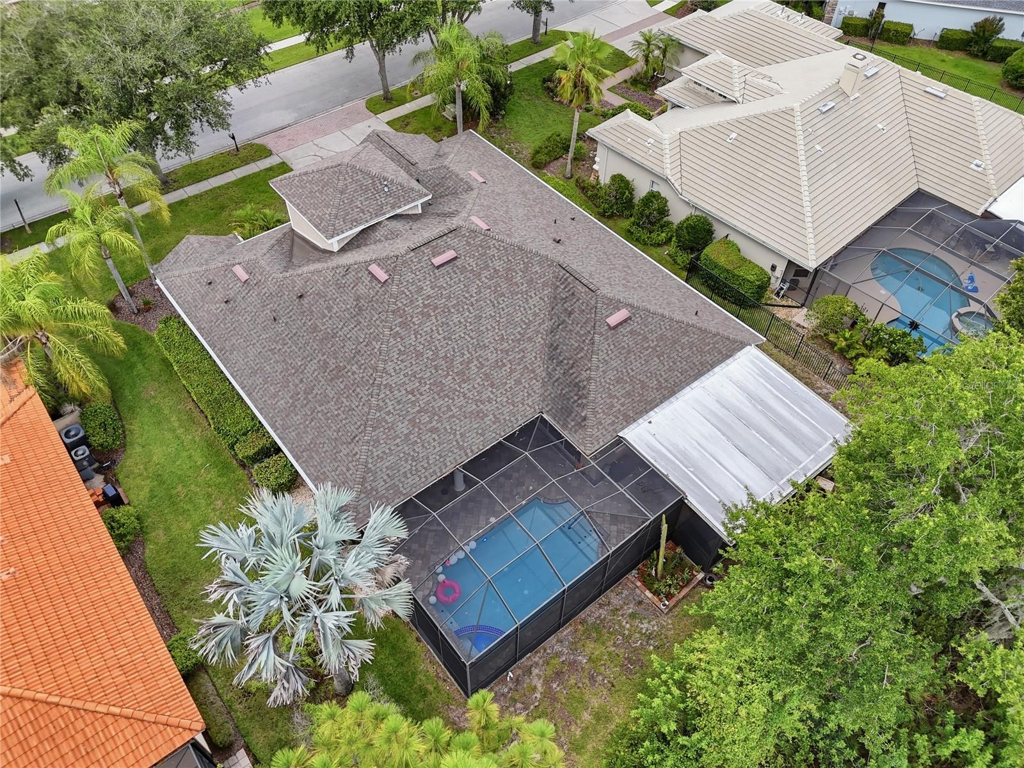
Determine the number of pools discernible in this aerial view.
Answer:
2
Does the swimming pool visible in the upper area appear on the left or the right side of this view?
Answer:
right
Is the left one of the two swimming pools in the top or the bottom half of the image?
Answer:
bottom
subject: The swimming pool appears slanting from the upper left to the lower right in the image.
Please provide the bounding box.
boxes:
[873,248,1002,345]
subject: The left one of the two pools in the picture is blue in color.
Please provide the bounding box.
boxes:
[418,494,613,659]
